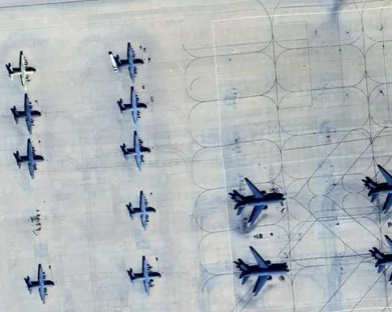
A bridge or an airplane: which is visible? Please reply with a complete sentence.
I can see an airplane in this picture.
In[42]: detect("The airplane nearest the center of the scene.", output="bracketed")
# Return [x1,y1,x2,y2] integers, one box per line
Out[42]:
[125,137,150,170]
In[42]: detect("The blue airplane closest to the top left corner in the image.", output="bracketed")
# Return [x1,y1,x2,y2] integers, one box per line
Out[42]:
[15,101,40,134]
